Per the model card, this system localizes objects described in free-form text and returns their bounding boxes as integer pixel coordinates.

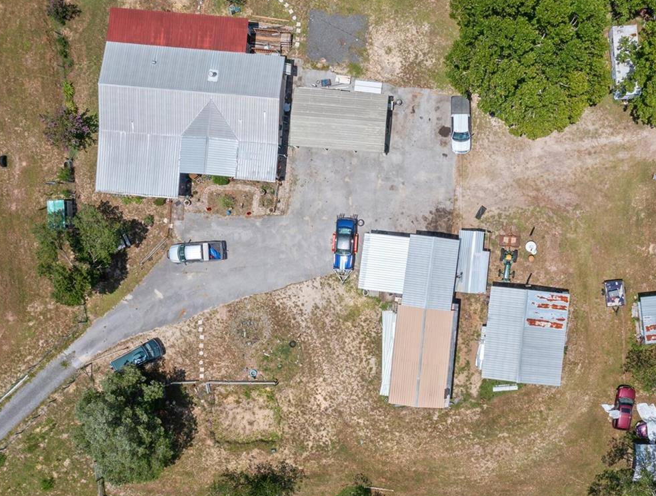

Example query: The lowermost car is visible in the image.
[631,420,650,440]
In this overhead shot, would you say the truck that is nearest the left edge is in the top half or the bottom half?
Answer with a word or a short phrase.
bottom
